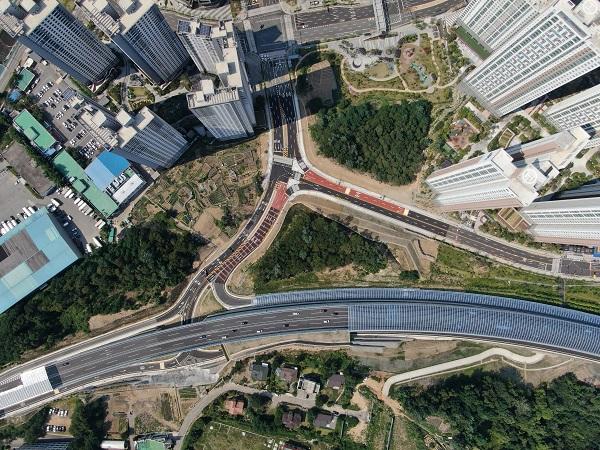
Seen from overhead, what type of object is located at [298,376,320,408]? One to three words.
house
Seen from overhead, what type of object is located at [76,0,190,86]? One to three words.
building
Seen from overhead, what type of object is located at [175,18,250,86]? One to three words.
building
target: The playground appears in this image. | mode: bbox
[348,44,434,87]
